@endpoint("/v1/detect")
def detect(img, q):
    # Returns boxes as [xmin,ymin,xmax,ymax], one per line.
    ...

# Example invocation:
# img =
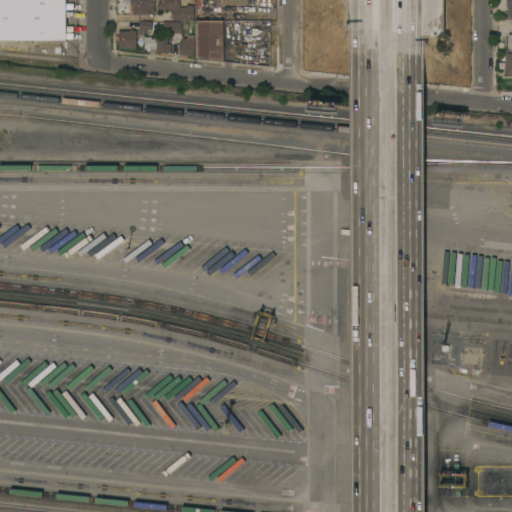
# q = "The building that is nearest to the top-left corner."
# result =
[0,0,68,42]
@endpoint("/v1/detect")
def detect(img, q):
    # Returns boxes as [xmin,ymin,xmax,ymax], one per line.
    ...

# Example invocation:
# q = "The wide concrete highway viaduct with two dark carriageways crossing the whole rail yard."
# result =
[350,0,424,512]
